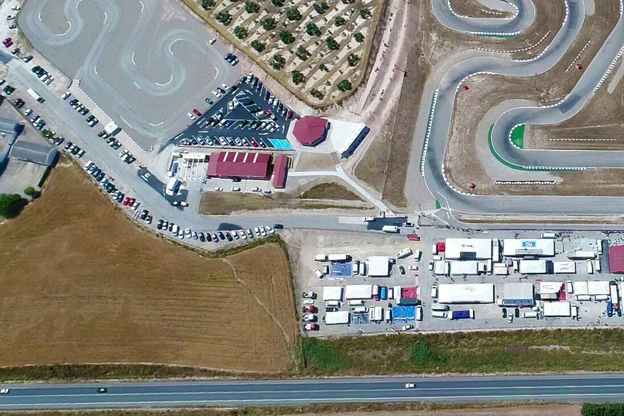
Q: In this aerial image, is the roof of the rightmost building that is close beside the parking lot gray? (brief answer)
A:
No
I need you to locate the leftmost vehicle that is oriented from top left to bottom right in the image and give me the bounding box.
[28,89,46,103]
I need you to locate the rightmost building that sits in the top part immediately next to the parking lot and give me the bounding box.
[293,113,329,146]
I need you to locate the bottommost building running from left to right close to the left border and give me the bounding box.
[9,141,62,170]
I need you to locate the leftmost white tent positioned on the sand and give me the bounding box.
[368,257,389,276]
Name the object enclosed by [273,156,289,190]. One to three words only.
building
